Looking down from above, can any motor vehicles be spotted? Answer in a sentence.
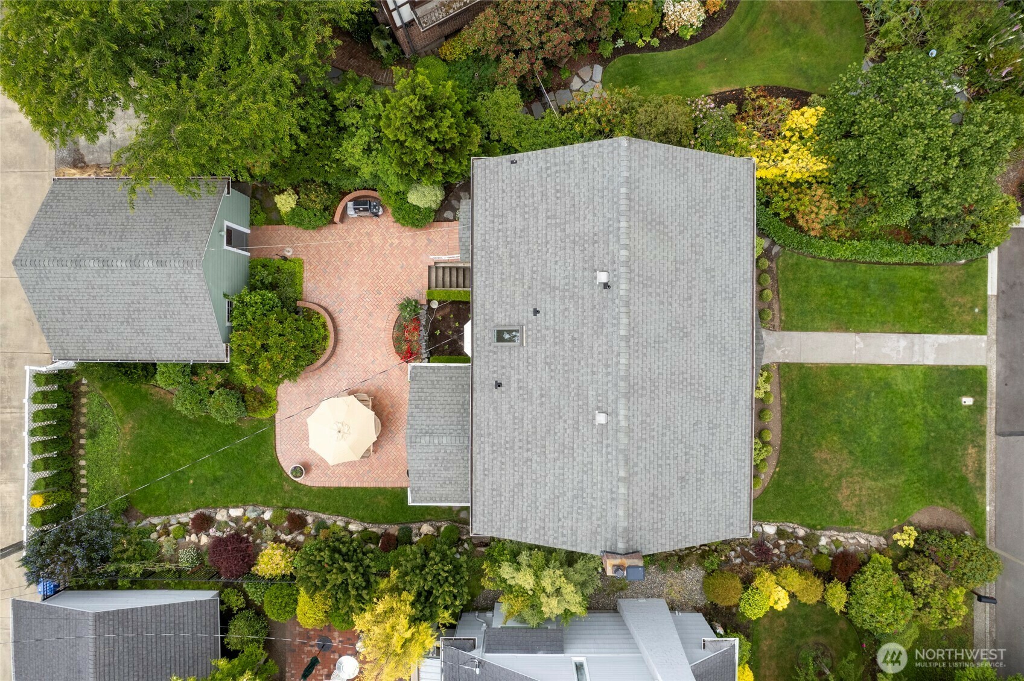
No, there isn't any motor vehicle down there.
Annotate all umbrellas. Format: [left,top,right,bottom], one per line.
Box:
[307,396,377,465]
[304,637,331,680]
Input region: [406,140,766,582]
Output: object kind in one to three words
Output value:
house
